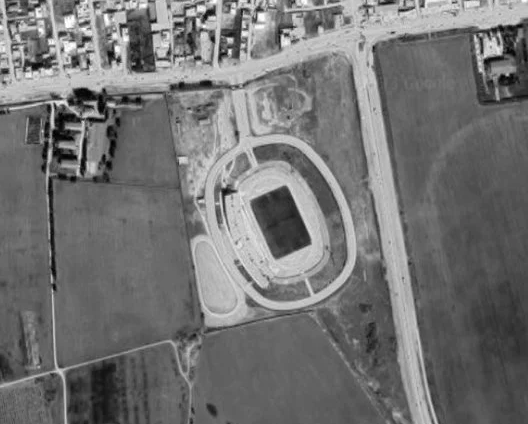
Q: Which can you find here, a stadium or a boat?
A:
stadium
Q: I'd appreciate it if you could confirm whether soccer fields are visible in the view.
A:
Yes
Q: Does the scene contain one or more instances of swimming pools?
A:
No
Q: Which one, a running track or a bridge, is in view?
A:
running track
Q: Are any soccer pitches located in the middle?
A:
Yes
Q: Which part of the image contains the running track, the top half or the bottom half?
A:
bottom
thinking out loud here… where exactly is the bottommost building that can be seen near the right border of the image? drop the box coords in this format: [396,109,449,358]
[491,60,517,75]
